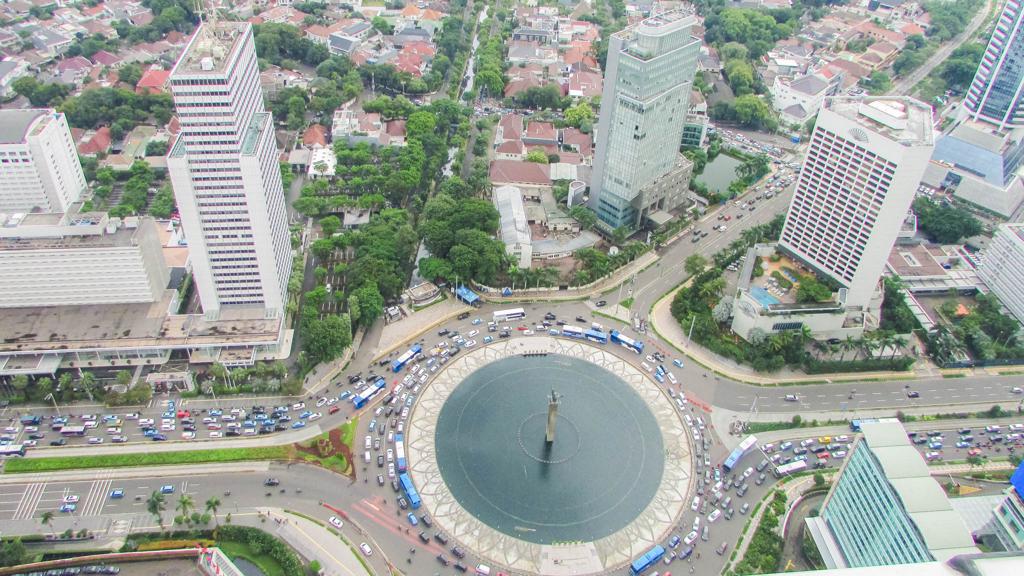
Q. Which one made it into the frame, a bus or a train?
bus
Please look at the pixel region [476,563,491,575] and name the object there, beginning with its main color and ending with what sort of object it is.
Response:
white vehicle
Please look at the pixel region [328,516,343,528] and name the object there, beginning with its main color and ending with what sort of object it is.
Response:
white vehicle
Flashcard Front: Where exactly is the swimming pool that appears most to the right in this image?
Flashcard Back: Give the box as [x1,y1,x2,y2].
[751,286,780,308]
